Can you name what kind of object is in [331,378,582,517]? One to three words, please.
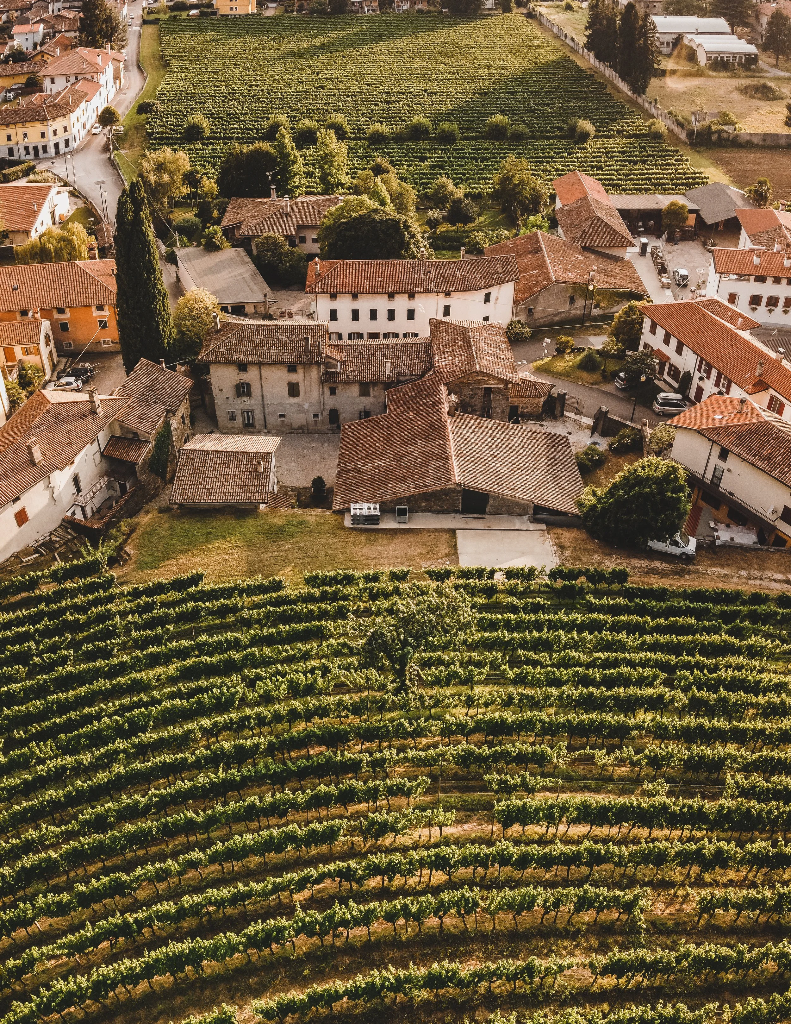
barn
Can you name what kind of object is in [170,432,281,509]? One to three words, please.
house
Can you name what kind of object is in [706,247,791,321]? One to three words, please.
house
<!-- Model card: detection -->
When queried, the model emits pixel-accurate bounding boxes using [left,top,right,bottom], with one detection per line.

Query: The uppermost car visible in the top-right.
[673,268,691,285]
